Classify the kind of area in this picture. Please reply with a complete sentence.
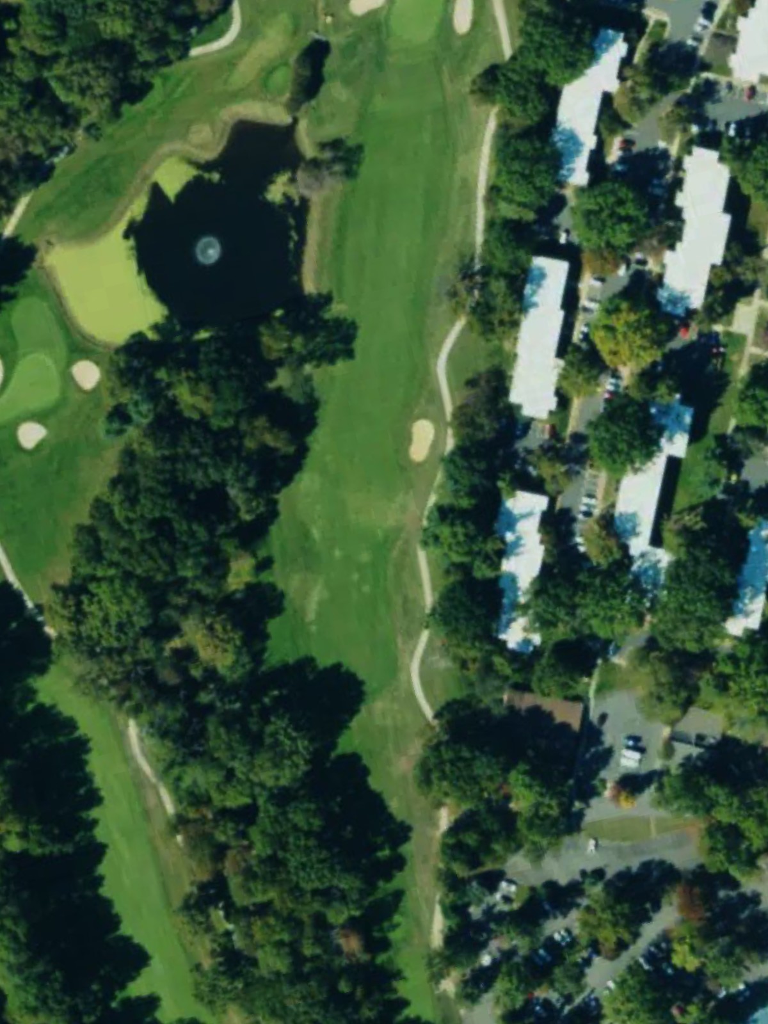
It's a golf course.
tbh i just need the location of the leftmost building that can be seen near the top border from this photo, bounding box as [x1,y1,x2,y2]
[556,31,628,186]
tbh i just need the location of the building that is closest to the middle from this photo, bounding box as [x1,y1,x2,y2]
[500,490,549,651]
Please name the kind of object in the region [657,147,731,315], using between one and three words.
building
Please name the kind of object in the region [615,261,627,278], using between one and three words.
vehicle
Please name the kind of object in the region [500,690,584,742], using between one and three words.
house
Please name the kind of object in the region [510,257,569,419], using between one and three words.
building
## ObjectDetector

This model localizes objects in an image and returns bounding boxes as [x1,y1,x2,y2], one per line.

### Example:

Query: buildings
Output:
[500,690,584,742]
[657,147,731,315]
[728,0,768,84]
[725,515,768,636]
[751,1003,768,1024]
[670,708,724,748]
[500,490,549,651]
[510,257,569,419]
[556,31,628,186]
[615,407,694,597]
